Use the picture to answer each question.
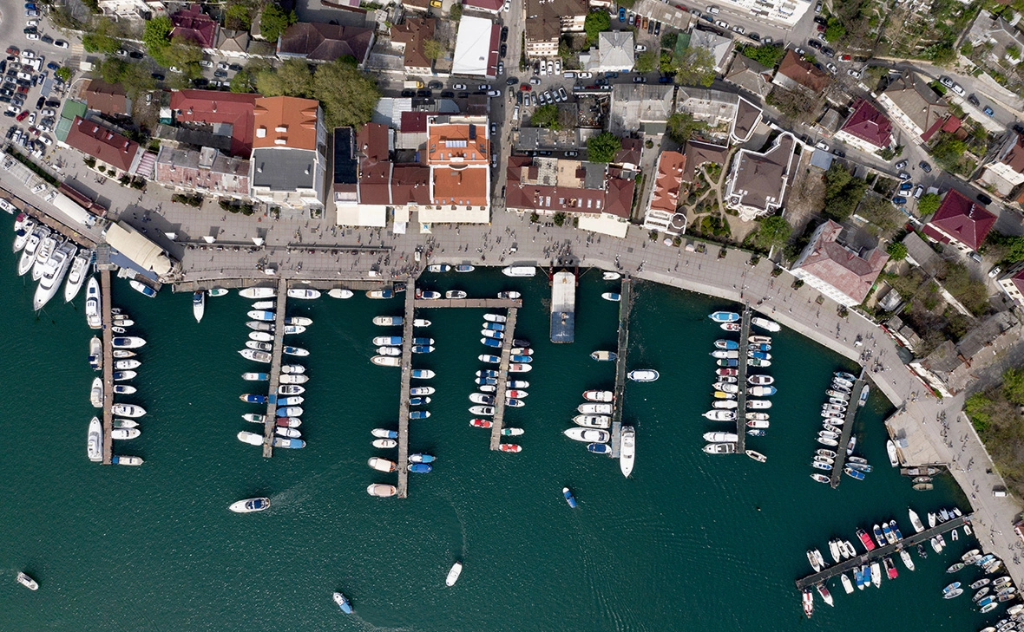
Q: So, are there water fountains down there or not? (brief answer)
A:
No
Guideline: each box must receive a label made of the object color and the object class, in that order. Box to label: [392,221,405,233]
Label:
white umbrella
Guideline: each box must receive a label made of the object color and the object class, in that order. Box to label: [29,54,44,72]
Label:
white vehicle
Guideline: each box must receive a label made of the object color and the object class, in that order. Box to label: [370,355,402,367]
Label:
white boat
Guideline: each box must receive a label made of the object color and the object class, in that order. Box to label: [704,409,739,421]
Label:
white boat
